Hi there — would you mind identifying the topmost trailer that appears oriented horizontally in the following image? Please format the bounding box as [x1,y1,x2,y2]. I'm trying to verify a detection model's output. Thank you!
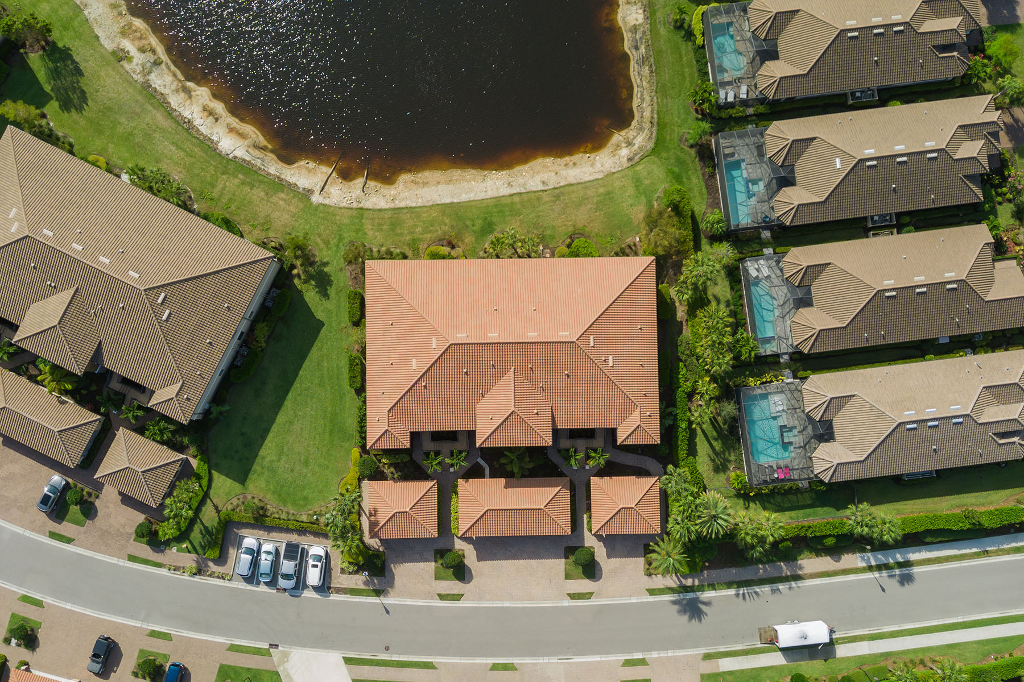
[753,615,833,649]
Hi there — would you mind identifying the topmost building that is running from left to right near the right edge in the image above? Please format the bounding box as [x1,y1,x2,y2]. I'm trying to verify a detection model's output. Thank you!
[748,0,991,99]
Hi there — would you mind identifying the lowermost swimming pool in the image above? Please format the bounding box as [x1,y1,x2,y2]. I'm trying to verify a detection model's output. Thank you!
[744,392,799,464]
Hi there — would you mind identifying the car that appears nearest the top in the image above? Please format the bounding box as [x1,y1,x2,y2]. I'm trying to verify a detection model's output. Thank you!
[36,474,67,514]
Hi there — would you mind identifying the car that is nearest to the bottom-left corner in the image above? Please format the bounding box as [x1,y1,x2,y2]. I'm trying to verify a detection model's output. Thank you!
[87,633,115,674]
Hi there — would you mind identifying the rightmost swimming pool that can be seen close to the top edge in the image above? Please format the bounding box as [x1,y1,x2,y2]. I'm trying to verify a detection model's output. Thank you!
[710,20,748,78]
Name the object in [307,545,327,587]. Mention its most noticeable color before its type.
white car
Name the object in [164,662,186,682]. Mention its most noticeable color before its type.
blue car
